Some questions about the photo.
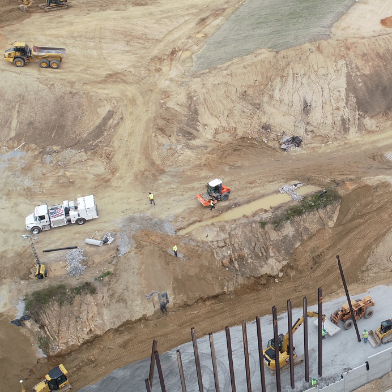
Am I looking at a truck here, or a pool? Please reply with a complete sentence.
I can see a truck in this picture.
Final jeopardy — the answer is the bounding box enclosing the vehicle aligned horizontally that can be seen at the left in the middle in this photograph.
[25,195,99,234]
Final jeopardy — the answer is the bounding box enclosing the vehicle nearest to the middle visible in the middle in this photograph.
[194,183,233,209]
